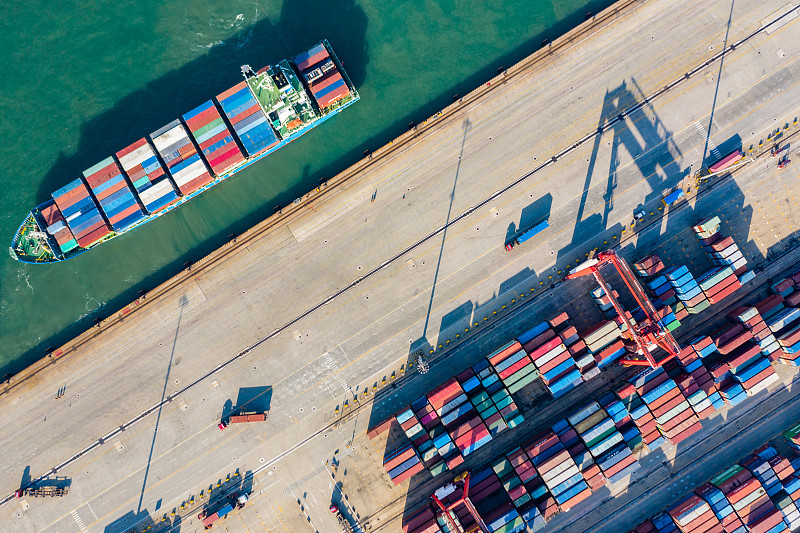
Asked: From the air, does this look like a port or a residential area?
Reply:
port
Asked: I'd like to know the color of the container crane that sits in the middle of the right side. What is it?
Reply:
red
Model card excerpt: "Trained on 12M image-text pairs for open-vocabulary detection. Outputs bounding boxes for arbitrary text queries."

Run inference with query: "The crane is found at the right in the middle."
[556,251,684,370]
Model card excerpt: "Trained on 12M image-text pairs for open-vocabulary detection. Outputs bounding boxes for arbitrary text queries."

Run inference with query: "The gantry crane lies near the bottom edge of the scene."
[425,467,498,533]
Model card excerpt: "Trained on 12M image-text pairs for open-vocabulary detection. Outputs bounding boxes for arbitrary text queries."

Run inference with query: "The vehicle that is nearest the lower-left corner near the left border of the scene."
[15,486,67,499]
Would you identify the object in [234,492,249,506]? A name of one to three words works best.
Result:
vehicle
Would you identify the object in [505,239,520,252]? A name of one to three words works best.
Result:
vehicle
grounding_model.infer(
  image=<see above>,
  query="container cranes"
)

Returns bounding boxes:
[556,251,684,370]
[425,467,498,533]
